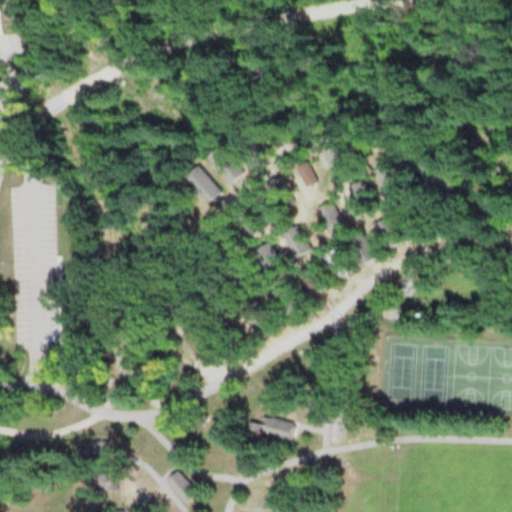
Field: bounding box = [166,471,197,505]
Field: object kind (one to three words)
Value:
building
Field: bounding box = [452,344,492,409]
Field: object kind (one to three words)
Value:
basketball court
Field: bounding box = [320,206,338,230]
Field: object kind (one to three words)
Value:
building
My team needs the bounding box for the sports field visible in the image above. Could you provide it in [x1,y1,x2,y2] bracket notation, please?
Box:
[398,446,512,512]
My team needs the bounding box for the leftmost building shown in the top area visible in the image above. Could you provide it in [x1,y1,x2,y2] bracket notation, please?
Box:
[187,166,222,202]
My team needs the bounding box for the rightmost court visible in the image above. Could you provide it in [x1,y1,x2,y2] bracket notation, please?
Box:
[488,346,512,411]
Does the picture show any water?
No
